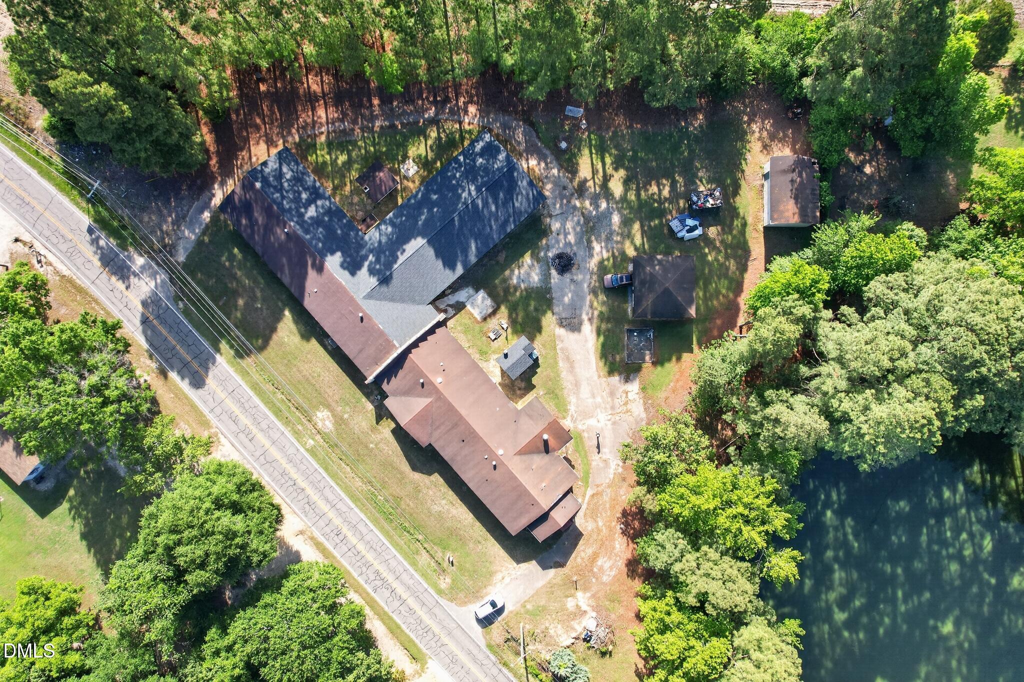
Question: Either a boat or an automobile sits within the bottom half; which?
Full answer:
Looking within the bottom half, you will find an automobile.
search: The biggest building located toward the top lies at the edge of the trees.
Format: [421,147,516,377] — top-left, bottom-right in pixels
[219,129,547,382]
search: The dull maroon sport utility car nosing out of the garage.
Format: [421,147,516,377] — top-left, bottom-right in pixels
[606,272,632,288]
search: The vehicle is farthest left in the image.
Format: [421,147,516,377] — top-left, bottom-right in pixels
[473,596,506,622]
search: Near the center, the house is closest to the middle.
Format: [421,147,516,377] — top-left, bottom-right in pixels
[496,335,539,380]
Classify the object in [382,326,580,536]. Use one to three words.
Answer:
house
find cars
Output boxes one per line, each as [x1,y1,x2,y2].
[473,596,506,622]
[606,272,632,288]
